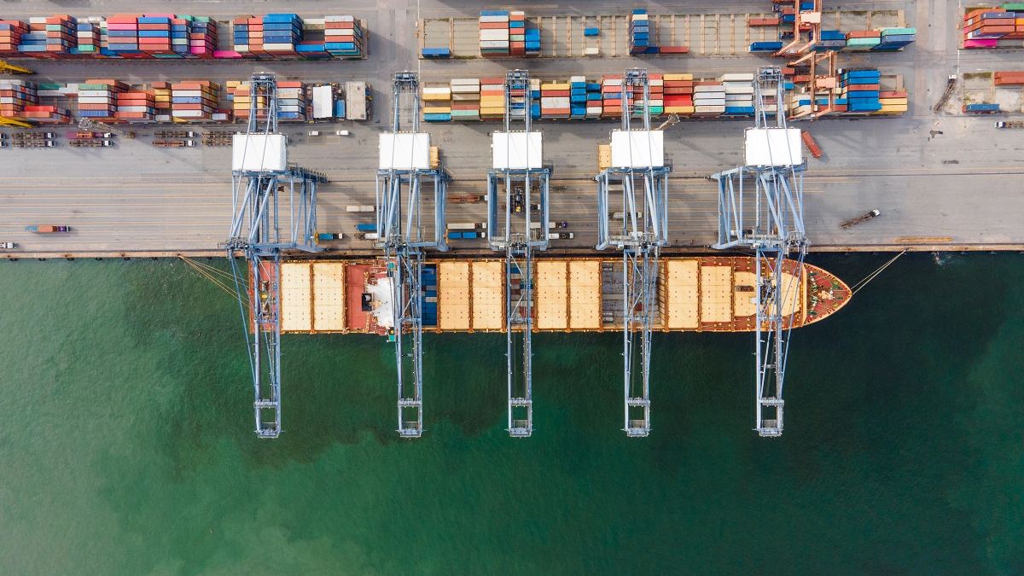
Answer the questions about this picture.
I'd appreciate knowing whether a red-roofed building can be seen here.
No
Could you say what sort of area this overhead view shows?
port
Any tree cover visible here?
No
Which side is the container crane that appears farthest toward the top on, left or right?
right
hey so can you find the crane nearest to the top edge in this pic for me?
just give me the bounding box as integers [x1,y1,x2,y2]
[766,0,821,58]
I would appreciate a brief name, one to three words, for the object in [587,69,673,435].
container crane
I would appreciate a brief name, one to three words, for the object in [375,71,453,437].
container crane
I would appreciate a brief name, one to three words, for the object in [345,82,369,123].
building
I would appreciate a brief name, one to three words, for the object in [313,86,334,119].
shed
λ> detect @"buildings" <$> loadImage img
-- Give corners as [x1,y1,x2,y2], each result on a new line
[313,86,334,119]
[345,82,369,123]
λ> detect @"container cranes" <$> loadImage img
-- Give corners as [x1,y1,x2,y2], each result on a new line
[782,49,838,120]
[375,71,453,437]
[587,69,673,435]
[229,72,326,438]
[483,70,556,436]
[766,0,821,58]
[706,68,807,434]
